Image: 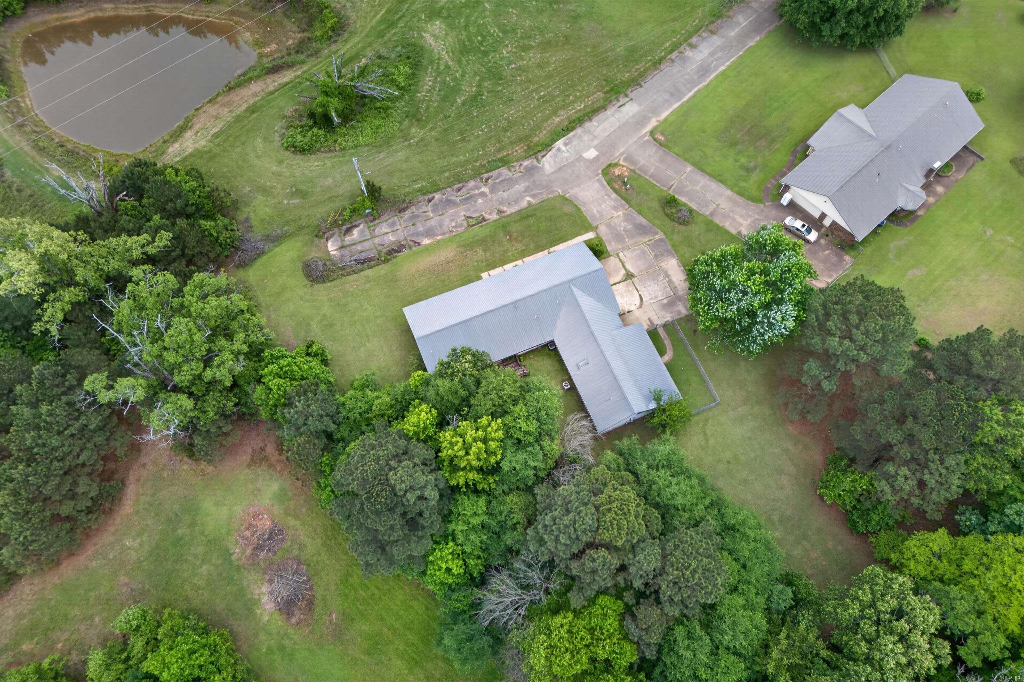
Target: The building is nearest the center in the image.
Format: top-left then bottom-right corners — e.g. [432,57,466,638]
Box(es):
[403,242,683,434]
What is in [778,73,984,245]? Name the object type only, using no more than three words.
house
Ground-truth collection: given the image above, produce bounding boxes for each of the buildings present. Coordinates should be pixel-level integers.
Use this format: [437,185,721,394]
[403,242,683,434]
[778,73,984,245]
